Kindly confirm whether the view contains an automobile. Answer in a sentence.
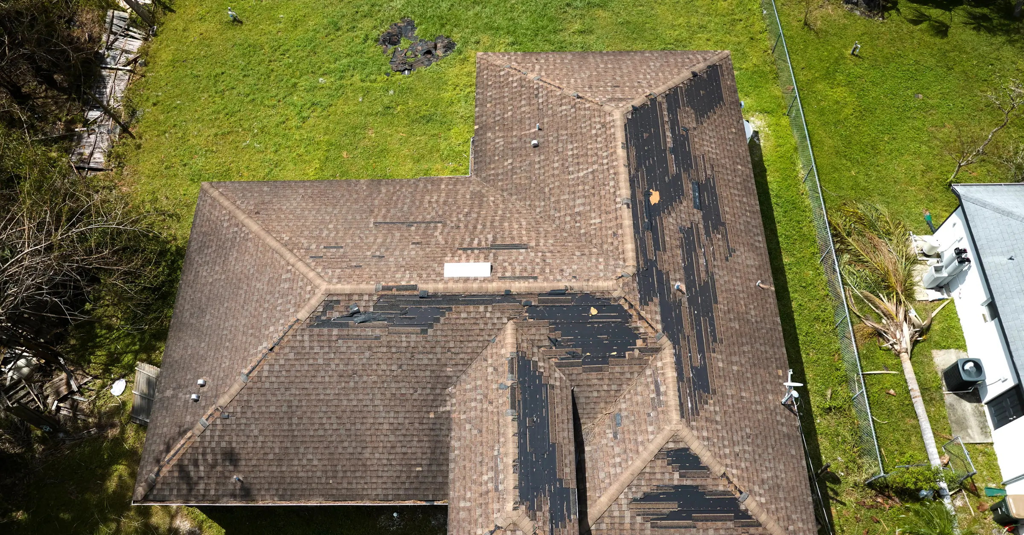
No, I can't see a single automobile in this photo.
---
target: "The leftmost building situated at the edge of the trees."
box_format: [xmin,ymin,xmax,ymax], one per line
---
[133,48,816,535]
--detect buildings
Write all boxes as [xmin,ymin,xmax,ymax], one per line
[133,48,816,535]
[931,183,1024,535]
